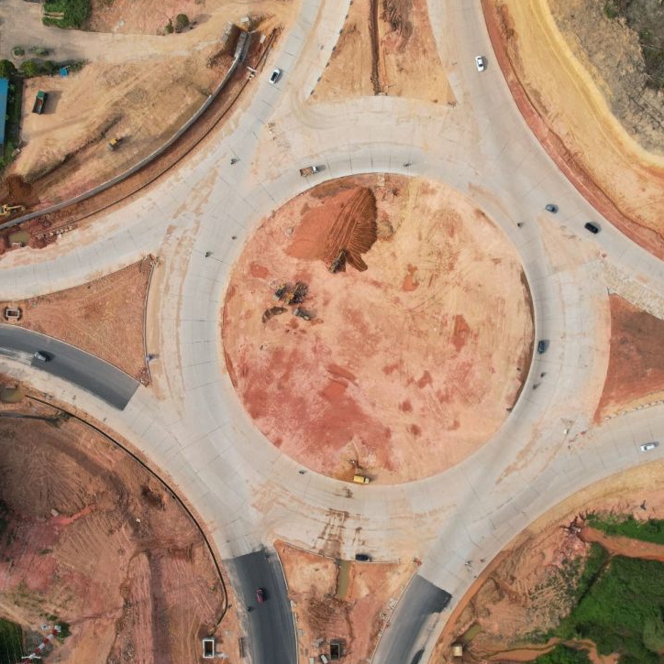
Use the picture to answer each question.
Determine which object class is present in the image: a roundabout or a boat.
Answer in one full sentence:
The image shows a roundabout.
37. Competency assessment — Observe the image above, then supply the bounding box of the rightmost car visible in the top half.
[584,221,600,234]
